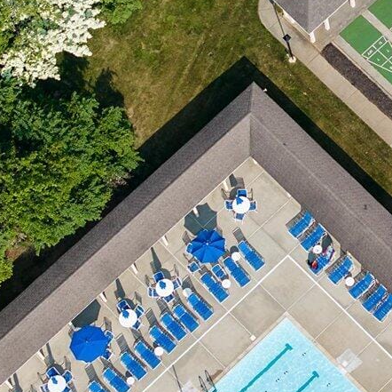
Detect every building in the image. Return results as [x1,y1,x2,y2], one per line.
[273,0,356,46]
[0,83,392,390]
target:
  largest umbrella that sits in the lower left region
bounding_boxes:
[69,324,107,363]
